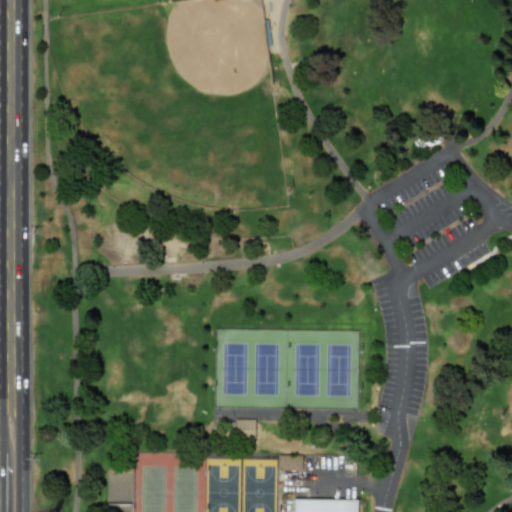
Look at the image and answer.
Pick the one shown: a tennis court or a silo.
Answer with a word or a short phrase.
tennis court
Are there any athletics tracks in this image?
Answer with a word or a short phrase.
No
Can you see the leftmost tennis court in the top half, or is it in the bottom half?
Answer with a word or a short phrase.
bottom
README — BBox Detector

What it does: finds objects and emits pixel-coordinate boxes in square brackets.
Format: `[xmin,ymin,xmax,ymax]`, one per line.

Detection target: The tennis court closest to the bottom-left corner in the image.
[135,453,170,512]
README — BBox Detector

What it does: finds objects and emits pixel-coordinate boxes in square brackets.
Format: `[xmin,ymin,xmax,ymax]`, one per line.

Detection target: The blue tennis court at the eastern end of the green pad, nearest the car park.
[324,330,360,408]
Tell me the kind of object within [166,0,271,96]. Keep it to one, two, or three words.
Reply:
baseball field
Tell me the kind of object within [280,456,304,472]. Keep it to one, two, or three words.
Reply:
shed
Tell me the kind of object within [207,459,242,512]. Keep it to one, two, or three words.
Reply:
basketball court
